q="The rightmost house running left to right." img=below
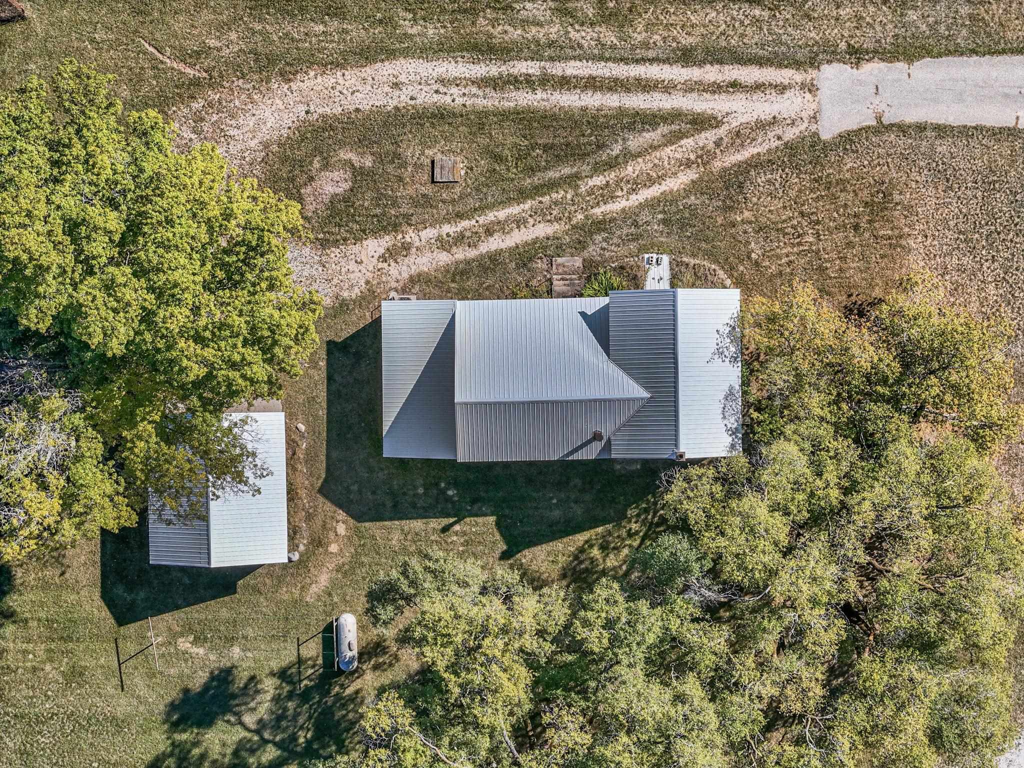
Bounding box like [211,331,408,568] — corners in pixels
[381,286,742,461]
